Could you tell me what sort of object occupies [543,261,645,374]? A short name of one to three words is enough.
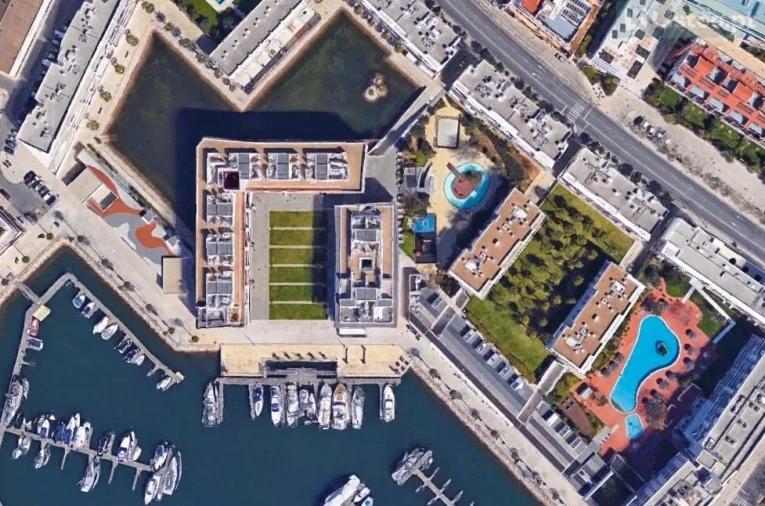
building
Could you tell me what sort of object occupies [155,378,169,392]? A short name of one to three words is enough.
boat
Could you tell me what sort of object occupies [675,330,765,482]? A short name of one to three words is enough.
building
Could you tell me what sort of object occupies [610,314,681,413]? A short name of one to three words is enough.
swimming pool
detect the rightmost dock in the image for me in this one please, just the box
[397,448,474,506]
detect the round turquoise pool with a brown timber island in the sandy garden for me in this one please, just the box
[443,161,491,210]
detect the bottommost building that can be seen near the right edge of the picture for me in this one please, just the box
[624,442,727,506]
